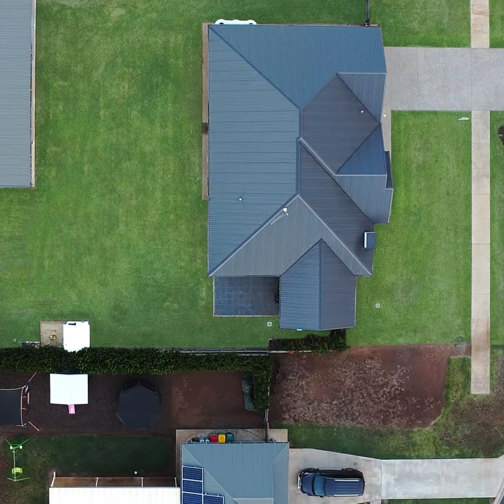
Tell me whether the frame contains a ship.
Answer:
No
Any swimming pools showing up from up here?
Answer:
No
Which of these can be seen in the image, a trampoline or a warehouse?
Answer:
trampoline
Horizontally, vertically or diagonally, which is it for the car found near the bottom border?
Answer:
horizontally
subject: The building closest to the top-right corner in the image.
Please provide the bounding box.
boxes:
[207,24,394,331]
